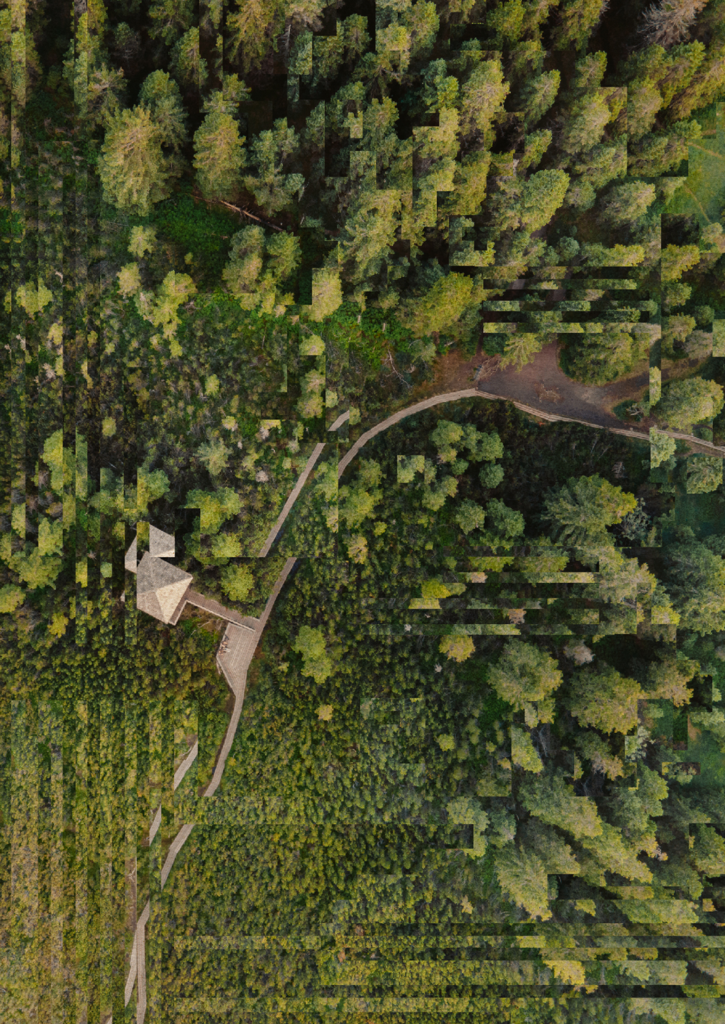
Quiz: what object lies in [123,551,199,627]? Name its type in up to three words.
building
